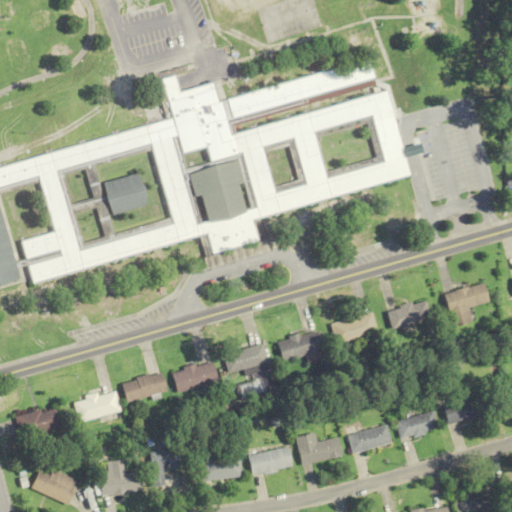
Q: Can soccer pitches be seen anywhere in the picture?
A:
No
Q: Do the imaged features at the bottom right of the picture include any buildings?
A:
Yes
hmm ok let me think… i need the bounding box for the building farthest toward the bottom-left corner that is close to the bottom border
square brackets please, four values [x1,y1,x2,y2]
[32,470,76,504]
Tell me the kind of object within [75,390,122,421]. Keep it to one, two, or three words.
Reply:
house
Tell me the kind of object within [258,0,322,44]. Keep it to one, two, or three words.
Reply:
sports court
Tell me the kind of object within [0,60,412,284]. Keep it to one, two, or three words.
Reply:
building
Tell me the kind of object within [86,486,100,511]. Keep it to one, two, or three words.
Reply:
camper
